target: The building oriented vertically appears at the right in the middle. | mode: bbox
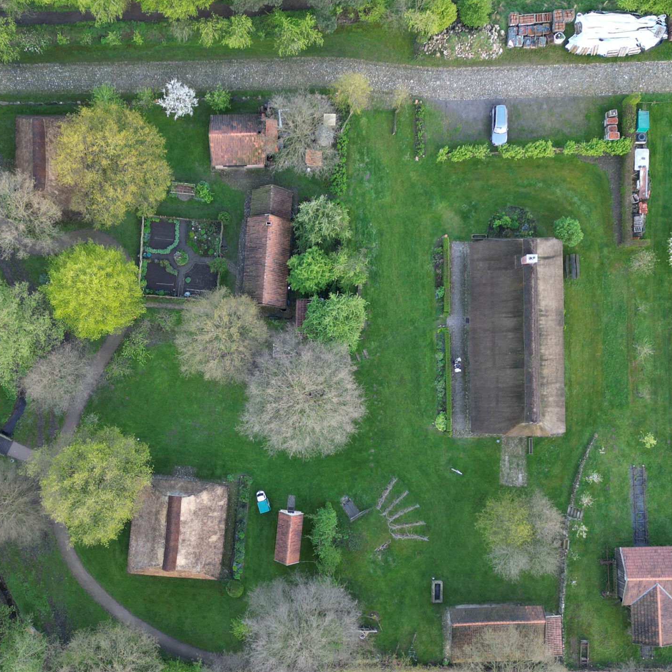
[469,229,565,436]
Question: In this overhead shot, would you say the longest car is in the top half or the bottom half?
top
